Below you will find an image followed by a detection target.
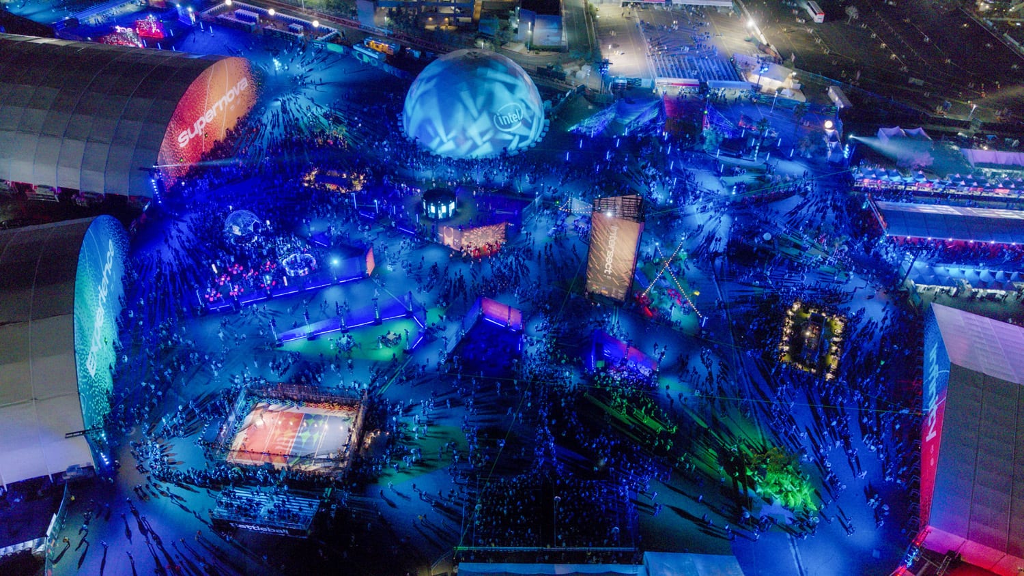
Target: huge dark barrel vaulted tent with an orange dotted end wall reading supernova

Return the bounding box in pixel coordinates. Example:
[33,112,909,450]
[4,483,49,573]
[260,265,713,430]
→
[0,47,260,211]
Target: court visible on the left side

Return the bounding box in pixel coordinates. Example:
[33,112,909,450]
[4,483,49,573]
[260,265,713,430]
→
[208,378,375,483]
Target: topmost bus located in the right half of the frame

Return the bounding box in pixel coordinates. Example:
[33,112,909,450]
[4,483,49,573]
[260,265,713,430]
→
[800,0,822,21]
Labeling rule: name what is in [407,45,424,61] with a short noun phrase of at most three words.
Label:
vehicle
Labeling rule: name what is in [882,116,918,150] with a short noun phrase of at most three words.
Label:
tent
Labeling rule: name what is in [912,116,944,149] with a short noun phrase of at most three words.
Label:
tent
